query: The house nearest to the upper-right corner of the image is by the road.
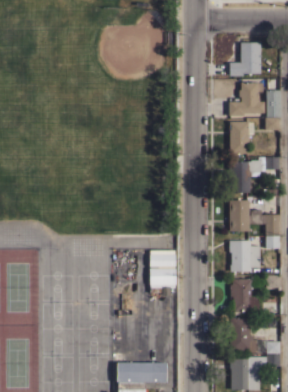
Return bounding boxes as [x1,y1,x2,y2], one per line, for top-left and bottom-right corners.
[230,42,262,76]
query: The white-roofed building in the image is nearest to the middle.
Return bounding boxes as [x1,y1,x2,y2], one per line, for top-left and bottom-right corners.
[150,250,176,268]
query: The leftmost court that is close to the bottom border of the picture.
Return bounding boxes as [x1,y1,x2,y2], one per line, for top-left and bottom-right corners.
[4,338,32,389]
